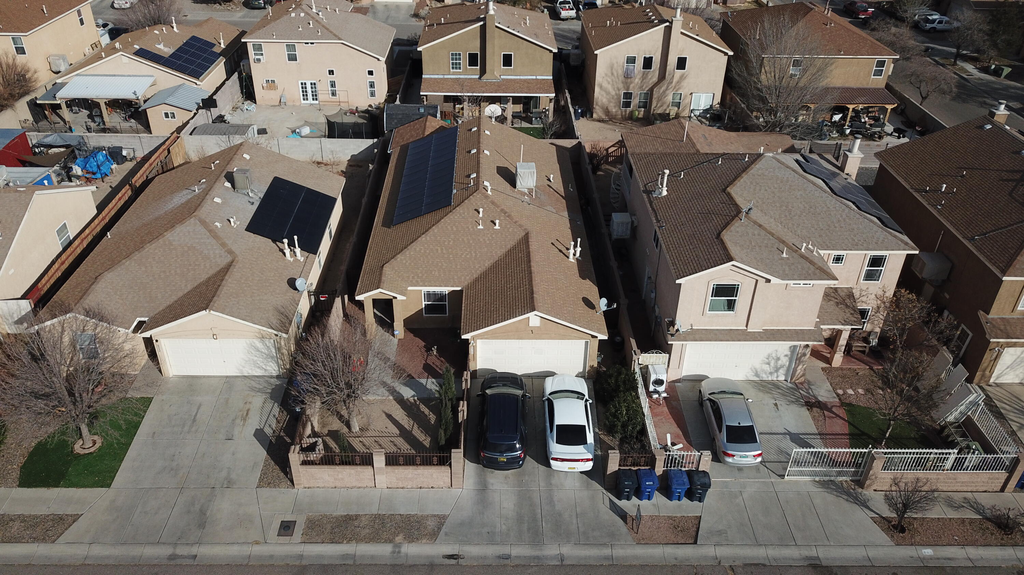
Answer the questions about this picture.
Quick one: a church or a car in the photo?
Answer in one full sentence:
Of the two, only a car appears.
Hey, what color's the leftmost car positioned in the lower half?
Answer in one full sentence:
From above, the leftmost car positioned in the lower half appears black.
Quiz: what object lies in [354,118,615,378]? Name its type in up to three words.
house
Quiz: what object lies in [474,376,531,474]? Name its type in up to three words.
car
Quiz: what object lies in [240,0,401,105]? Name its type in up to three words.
house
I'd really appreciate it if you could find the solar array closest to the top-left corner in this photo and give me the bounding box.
[131,20,234,77]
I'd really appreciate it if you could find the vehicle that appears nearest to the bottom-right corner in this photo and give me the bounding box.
[699,379,766,472]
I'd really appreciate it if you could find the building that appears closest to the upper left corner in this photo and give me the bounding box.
[0,0,112,95]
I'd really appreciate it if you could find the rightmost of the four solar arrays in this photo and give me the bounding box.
[796,150,879,209]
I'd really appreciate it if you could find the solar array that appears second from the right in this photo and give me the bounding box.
[390,122,457,222]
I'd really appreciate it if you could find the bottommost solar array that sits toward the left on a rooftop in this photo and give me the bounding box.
[246,174,338,250]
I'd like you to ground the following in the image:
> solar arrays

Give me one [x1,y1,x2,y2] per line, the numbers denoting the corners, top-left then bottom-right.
[796,150,879,209]
[246,174,338,250]
[131,20,234,77]
[390,122,457,222]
